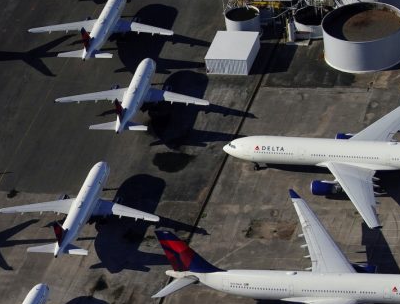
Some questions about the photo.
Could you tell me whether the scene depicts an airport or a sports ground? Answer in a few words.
airport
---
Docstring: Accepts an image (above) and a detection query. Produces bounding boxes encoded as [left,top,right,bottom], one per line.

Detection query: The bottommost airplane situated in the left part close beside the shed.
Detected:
[53,57,210,133]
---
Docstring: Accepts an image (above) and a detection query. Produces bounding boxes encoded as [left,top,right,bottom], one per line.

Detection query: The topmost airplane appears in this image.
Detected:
[25,0,174,61]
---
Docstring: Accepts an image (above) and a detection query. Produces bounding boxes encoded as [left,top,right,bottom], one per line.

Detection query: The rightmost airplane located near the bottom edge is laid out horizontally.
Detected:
[153,187,400,304]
